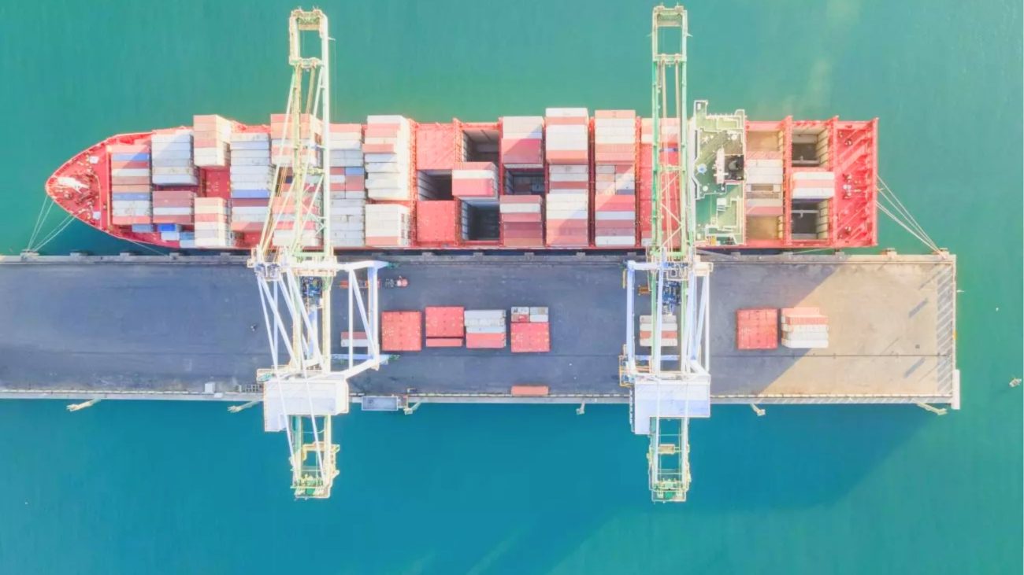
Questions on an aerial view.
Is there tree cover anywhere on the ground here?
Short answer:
No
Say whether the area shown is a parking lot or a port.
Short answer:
port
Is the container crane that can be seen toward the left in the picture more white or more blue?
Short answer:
white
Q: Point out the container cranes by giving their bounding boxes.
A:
[613,0,712,505]
[240,3,403,501]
